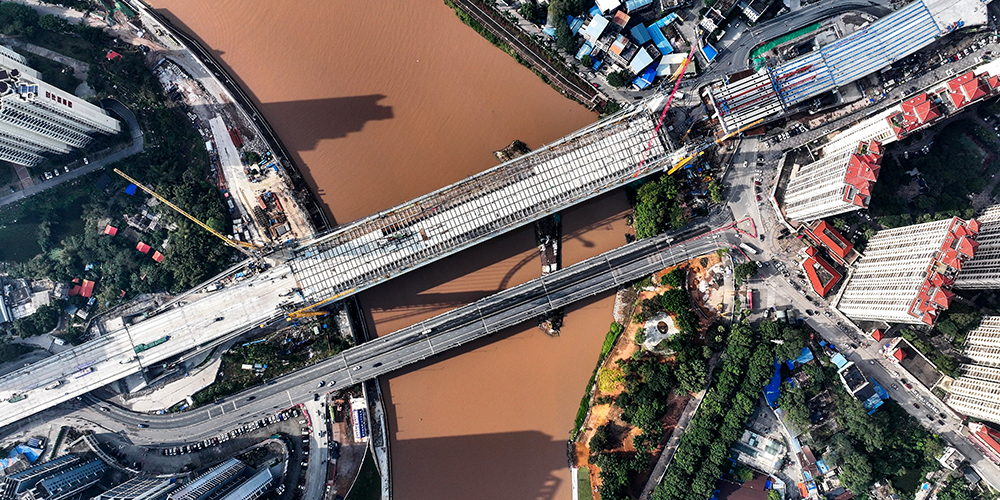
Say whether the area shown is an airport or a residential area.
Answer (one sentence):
The picture captures a residential area.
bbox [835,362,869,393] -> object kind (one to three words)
house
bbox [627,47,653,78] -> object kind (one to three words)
house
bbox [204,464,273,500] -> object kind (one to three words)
building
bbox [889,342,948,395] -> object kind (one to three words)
building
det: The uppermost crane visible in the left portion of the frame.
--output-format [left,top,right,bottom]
[114,169,267,257]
